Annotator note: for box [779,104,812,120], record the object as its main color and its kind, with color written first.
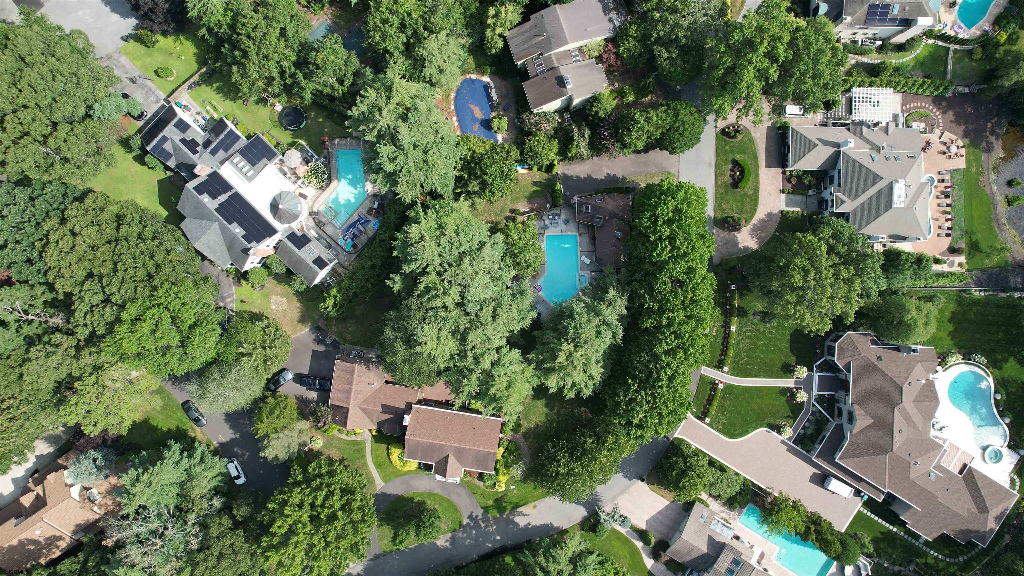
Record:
white car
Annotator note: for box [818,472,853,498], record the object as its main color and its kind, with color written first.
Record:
white vehicle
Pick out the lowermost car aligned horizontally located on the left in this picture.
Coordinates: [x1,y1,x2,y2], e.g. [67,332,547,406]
[298,376,332,393]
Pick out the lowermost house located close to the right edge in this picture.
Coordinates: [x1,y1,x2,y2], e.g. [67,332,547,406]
[806,331,1020,548]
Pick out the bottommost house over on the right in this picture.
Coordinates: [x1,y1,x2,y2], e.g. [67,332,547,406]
[664,497,777,576]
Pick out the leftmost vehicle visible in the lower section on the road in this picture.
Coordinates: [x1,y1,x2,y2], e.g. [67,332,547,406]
[181,398,207,429]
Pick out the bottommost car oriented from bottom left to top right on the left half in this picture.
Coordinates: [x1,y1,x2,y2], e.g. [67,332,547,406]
[265,366,297,393]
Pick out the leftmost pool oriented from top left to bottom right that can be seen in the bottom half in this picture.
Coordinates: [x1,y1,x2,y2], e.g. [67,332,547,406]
[737,503,836,576]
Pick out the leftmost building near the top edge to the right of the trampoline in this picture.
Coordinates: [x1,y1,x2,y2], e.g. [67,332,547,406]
[506,0,623,114]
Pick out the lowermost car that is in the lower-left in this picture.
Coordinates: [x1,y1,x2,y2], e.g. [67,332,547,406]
[225,456,249,486]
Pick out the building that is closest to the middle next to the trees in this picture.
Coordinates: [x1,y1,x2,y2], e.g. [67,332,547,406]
[575,193,633,269]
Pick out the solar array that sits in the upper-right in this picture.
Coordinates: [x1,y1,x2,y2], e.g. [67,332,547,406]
[866,4,909,26]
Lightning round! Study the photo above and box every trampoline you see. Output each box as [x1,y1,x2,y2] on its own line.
[278,101,307,130]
